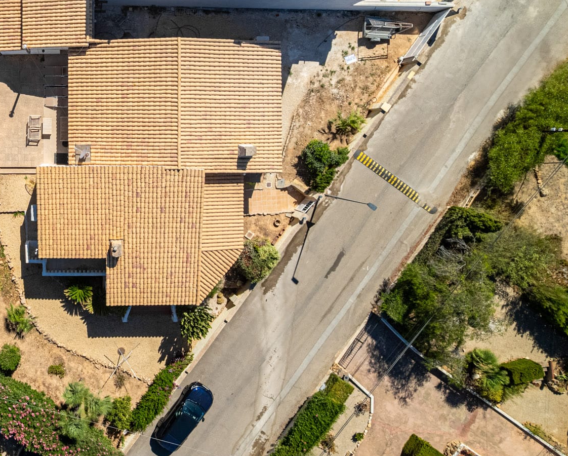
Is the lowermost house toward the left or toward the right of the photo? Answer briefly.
left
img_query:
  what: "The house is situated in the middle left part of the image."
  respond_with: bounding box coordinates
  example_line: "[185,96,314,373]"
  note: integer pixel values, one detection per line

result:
[24,37,285,324]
